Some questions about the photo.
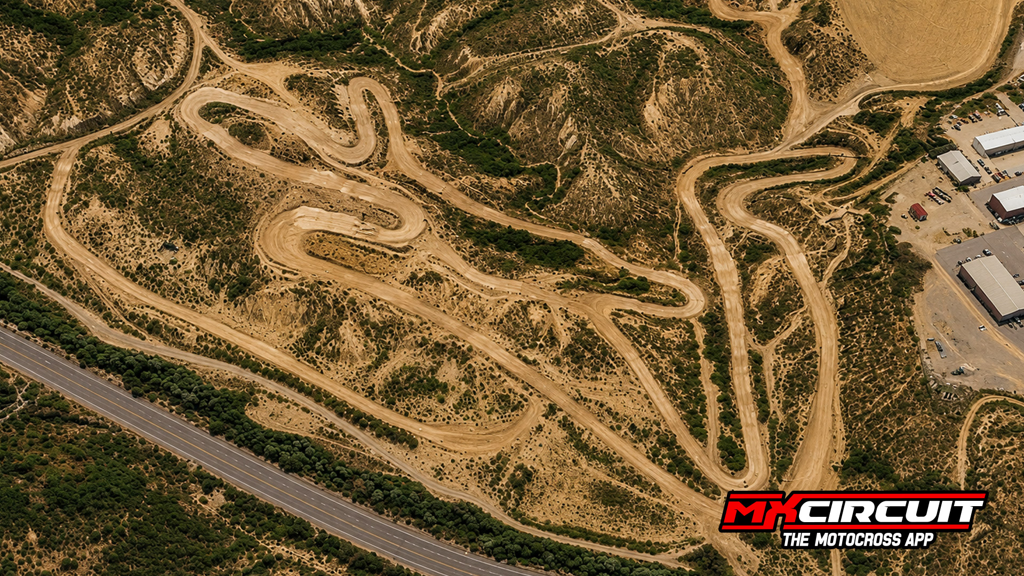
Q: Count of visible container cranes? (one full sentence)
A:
No container cranes are visible.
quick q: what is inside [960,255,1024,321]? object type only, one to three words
building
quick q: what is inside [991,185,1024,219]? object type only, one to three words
building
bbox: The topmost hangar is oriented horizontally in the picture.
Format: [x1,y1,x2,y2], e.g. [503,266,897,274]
[973,125,1024,158]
